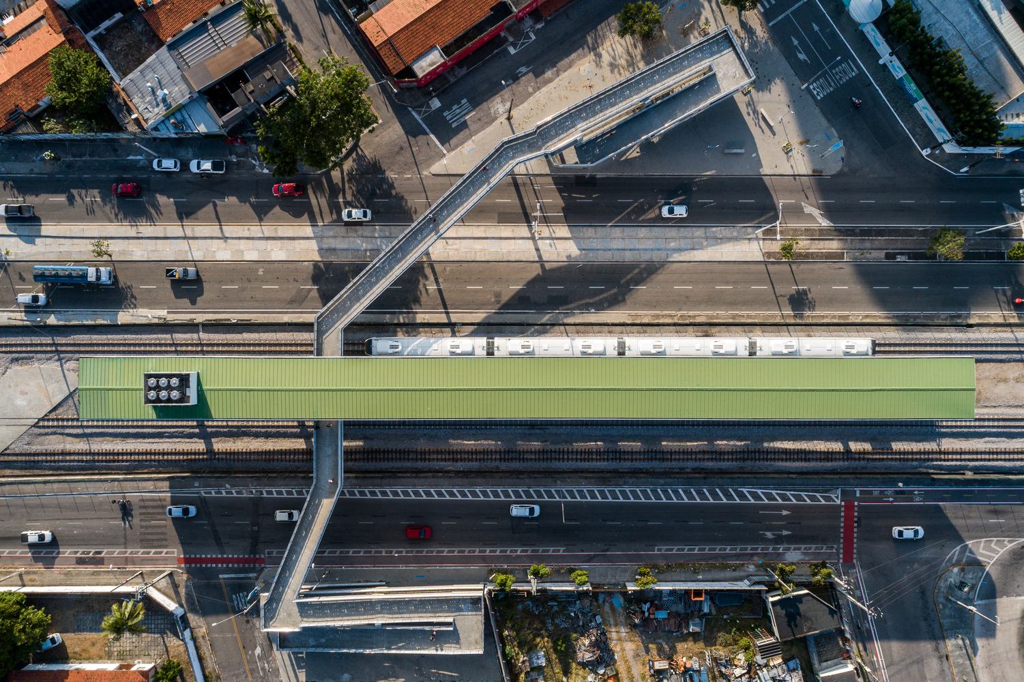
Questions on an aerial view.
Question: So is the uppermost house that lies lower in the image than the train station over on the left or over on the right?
right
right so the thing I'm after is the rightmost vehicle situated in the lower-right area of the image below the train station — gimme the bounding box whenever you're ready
[890,525,923,540]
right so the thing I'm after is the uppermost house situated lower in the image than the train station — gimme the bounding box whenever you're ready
[760,583,842,642]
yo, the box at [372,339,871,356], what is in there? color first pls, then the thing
white train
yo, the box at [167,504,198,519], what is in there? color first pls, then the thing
blue car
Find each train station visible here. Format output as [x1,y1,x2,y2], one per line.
[77,356,978,421]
